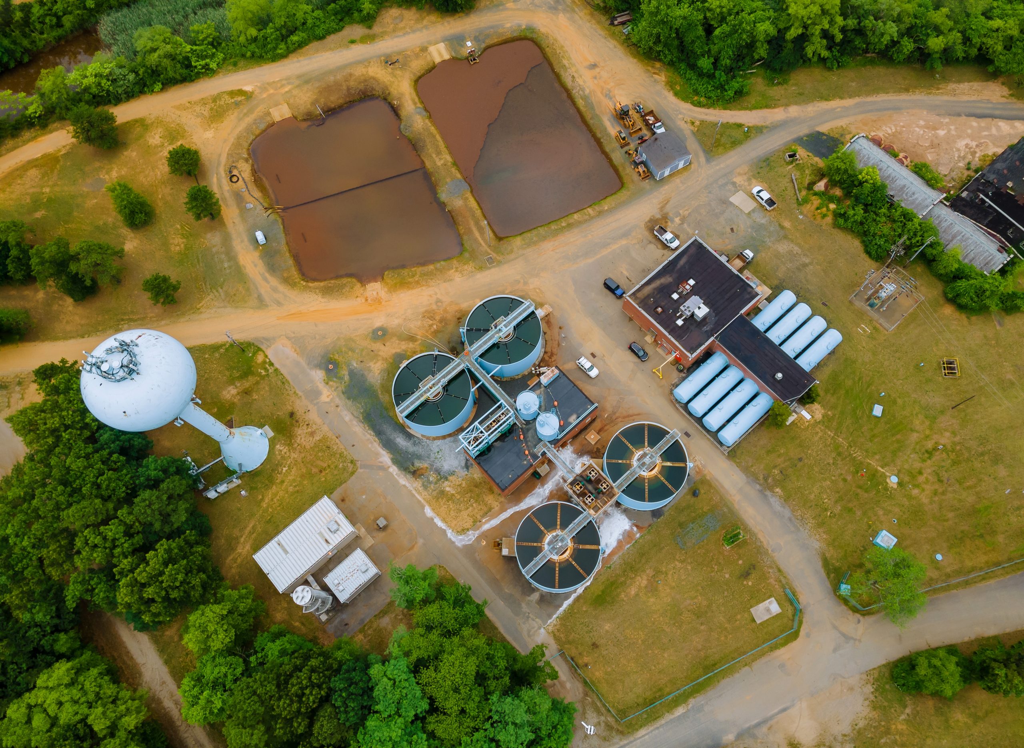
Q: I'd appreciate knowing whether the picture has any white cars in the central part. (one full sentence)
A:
Yes, there is a white car in the central part.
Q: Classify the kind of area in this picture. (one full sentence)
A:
The area seen from above is an industrial area.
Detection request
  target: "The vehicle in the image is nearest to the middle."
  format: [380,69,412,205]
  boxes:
[574,355,601,381]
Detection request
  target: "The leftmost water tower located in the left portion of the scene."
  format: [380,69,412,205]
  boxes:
[78,327,266,470]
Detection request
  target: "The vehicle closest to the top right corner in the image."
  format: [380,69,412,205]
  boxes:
[751,187,777,211]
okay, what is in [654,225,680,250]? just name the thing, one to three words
truck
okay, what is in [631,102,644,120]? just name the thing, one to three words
vehicle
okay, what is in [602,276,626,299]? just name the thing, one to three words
car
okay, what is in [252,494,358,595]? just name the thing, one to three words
shed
